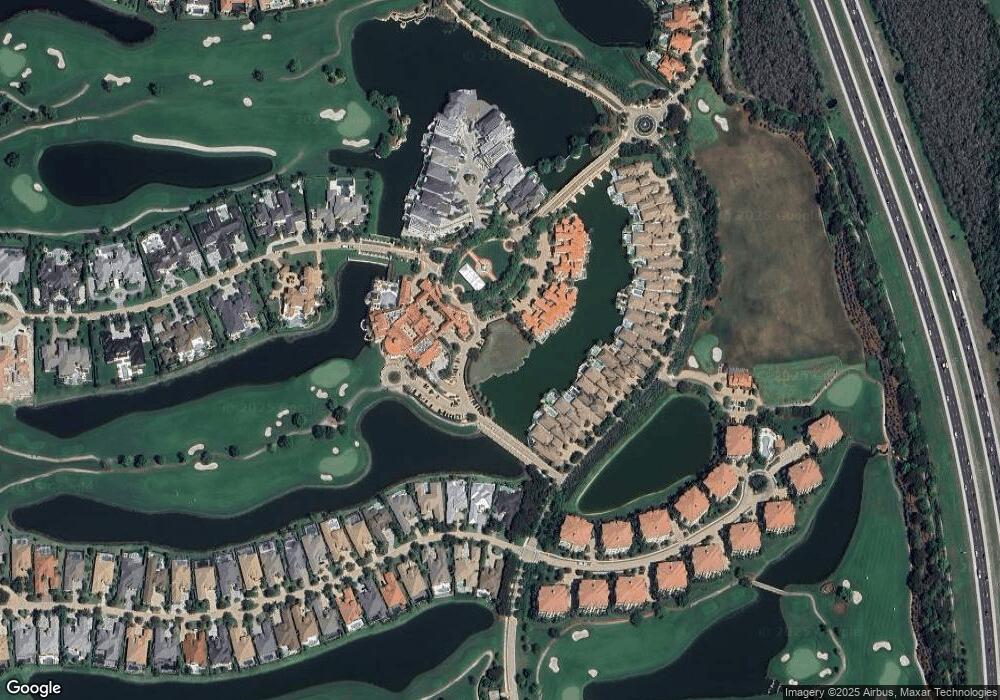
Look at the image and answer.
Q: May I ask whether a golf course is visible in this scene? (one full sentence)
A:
Yes, I can see a golf course in this picture.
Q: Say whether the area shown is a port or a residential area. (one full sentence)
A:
It's a residential area.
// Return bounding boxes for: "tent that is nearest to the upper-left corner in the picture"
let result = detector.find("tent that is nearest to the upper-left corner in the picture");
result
[459,264,485,291]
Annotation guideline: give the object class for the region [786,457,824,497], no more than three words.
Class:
building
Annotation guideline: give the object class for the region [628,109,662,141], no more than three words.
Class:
roundabout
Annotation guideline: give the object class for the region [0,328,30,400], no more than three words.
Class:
house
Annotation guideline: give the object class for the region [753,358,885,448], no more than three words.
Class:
golf course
